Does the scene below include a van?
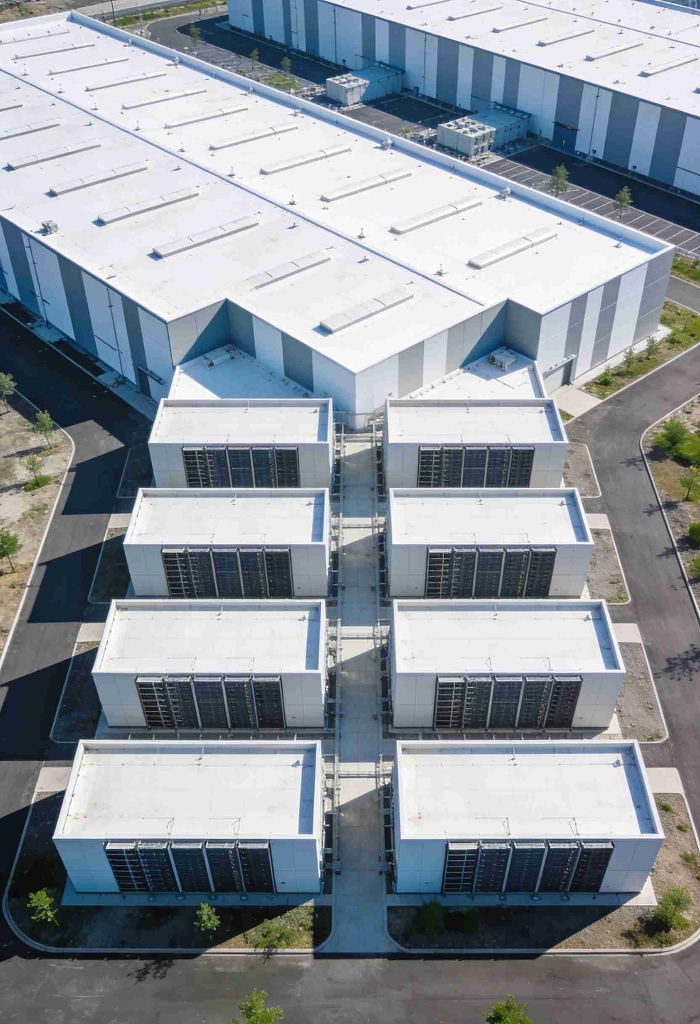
No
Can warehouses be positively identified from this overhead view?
Yes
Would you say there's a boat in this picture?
No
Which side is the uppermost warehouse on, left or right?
right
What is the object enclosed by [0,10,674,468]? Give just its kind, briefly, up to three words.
warehouse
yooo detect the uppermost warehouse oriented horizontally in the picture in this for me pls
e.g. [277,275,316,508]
[231,0,700,197]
